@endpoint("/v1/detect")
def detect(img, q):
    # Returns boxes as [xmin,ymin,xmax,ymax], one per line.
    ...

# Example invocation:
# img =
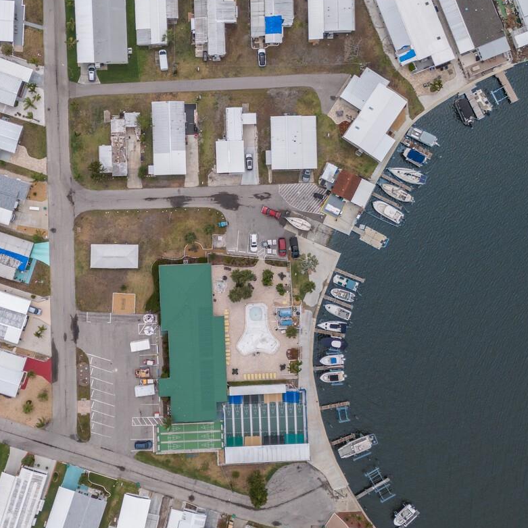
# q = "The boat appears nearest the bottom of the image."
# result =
[395,503,416,523]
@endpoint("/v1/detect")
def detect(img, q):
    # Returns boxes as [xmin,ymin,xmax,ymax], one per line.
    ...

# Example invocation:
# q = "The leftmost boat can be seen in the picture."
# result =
[284,216,313,229]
